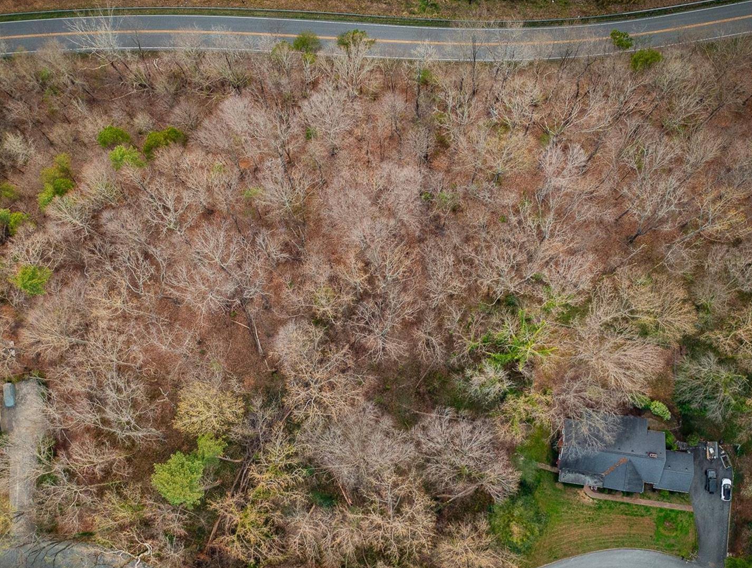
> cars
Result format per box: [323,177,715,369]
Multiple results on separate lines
[705,469,719,494]
[719,476,734,503]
